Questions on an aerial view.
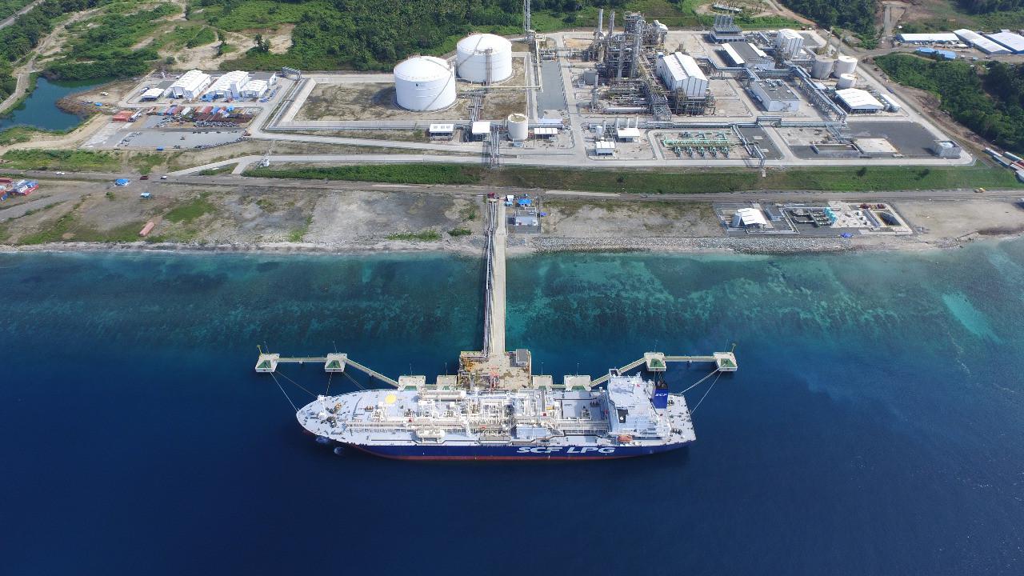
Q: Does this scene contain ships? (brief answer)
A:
Yes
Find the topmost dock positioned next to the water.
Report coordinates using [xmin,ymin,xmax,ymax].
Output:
[492,207,506,353]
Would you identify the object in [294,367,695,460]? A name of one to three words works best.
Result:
ship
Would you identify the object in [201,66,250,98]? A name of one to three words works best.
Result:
building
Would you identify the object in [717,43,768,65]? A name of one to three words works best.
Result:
building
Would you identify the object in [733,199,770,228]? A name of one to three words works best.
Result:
shed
